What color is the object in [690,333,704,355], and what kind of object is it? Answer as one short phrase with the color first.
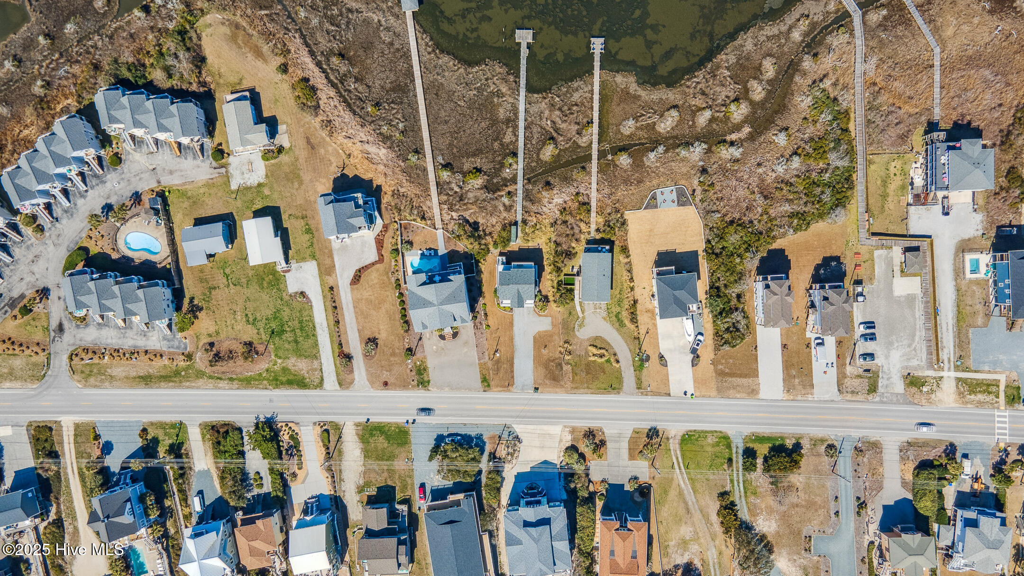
white vehicle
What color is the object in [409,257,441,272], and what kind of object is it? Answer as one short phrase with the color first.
blue swimming pool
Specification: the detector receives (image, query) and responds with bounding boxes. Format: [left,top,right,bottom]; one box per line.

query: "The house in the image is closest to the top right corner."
[910,131,995,206]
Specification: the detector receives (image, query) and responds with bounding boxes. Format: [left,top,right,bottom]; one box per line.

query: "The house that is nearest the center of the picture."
[496,257,538,308]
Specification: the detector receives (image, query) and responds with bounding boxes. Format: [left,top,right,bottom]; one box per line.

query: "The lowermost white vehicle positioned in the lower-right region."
[958,456,971,477]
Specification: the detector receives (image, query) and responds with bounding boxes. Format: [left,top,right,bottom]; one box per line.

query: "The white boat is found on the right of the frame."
[682,314,694,341]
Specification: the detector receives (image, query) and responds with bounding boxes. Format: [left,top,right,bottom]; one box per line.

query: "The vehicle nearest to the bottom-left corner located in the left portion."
[193,492,205,511]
